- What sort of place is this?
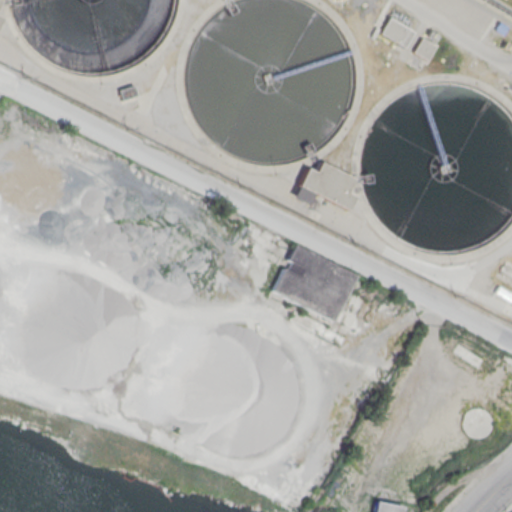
industrial area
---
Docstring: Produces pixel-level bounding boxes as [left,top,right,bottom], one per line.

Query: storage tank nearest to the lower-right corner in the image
[460,408,492,440]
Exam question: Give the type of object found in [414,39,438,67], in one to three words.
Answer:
building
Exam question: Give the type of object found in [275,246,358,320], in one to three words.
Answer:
building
